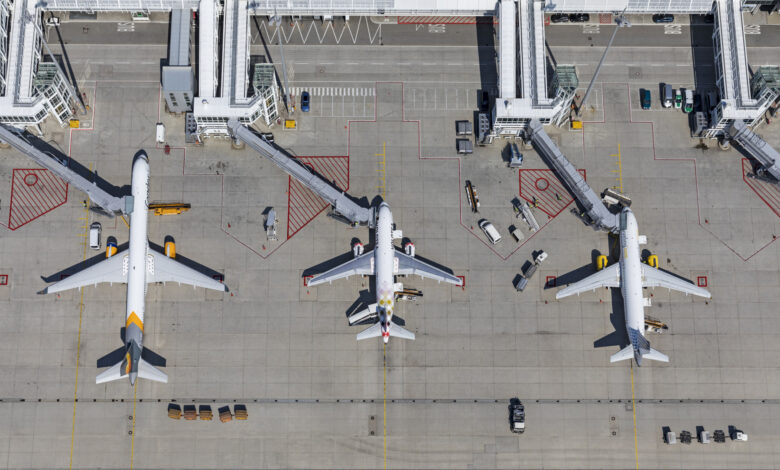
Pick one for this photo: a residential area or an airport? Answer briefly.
airport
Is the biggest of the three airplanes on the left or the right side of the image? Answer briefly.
left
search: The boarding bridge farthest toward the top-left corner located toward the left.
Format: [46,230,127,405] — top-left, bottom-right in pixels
[0,129,136,226]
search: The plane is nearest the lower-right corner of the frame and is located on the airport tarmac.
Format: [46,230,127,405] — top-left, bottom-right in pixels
[556,207,713,367]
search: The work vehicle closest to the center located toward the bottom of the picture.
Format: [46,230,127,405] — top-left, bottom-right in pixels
[395,291,424,305]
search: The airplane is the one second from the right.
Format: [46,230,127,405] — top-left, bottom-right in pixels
[307,200,463,344]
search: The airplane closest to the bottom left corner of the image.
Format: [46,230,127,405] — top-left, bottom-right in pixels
[36,154,229,385]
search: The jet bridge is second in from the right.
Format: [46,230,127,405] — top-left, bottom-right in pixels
[522,120,628,235]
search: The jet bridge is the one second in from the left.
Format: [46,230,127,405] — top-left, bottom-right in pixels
[227,119,380,228]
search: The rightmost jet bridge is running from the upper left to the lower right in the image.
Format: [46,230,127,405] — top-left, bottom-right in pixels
[717,120,780,201]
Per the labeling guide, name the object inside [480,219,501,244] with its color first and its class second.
white vehicle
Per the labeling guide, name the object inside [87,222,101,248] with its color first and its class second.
white vehicle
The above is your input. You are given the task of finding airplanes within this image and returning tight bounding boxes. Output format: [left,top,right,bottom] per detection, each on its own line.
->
[556,207,713,367]
[36,154,229,385]
[307,200,463,344]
